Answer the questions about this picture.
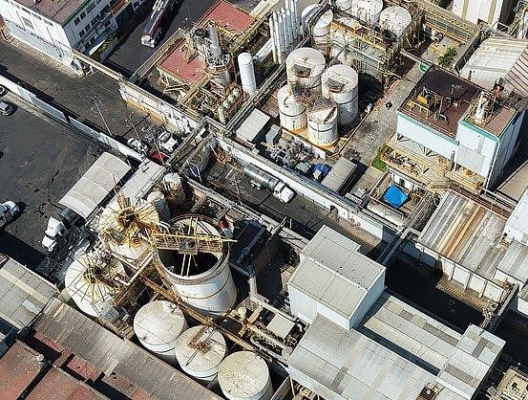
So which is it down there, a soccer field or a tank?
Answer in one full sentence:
Of the two, only a tank appears.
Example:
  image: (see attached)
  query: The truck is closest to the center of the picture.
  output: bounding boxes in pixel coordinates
[245,164,293,206]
